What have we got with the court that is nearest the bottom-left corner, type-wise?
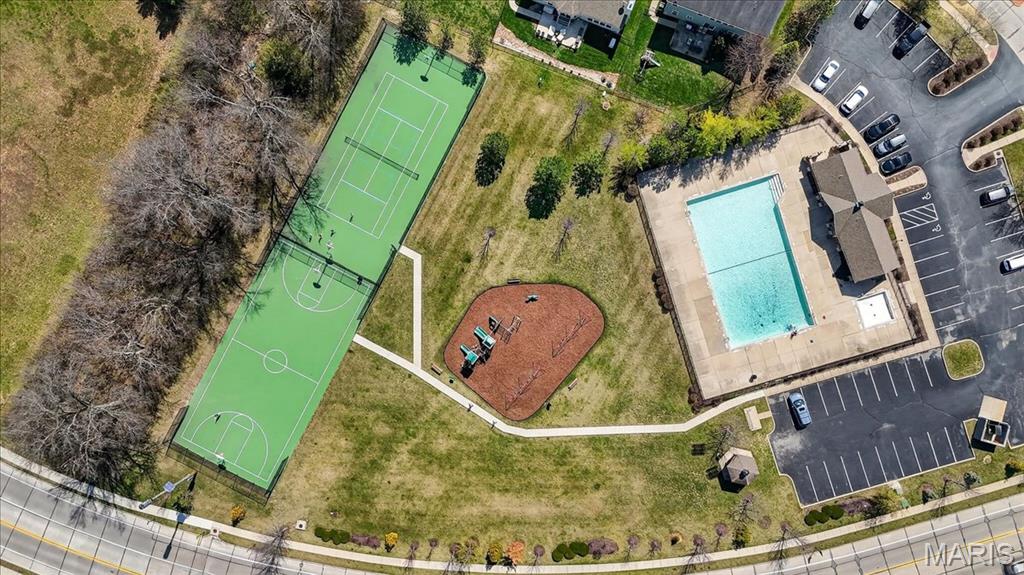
basketball court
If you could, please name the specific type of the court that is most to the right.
tennis court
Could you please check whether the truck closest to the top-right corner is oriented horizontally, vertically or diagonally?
diagonally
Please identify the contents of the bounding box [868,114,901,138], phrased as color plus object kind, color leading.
black car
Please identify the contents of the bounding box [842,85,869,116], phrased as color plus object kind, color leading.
white car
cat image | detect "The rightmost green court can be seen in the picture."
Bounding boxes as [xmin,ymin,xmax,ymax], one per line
[279,23,483,284]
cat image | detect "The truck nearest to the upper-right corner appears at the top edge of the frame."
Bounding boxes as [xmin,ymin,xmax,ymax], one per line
[897,21,932,56]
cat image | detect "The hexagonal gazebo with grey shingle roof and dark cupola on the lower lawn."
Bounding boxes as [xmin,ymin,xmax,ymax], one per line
[718,447,758,487]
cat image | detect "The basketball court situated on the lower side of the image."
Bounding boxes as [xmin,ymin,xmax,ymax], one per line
[173,235,376,489]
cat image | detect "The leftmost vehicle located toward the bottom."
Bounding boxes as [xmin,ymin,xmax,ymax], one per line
[791,396,812,428]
